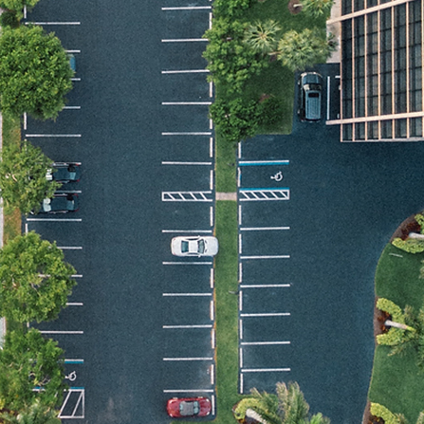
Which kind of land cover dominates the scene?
paved ground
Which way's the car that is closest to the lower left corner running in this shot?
horizontally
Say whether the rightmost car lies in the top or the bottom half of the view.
top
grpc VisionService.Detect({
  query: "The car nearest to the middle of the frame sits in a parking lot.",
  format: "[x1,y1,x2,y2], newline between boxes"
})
[172,235,220,259]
